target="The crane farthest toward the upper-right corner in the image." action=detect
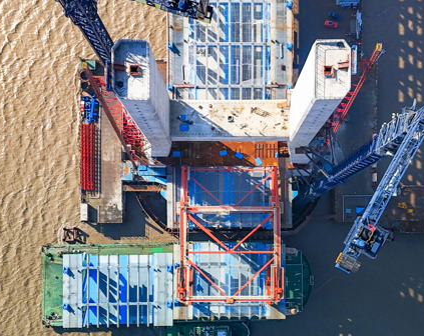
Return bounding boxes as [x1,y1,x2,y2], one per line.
[325,42,384,141]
